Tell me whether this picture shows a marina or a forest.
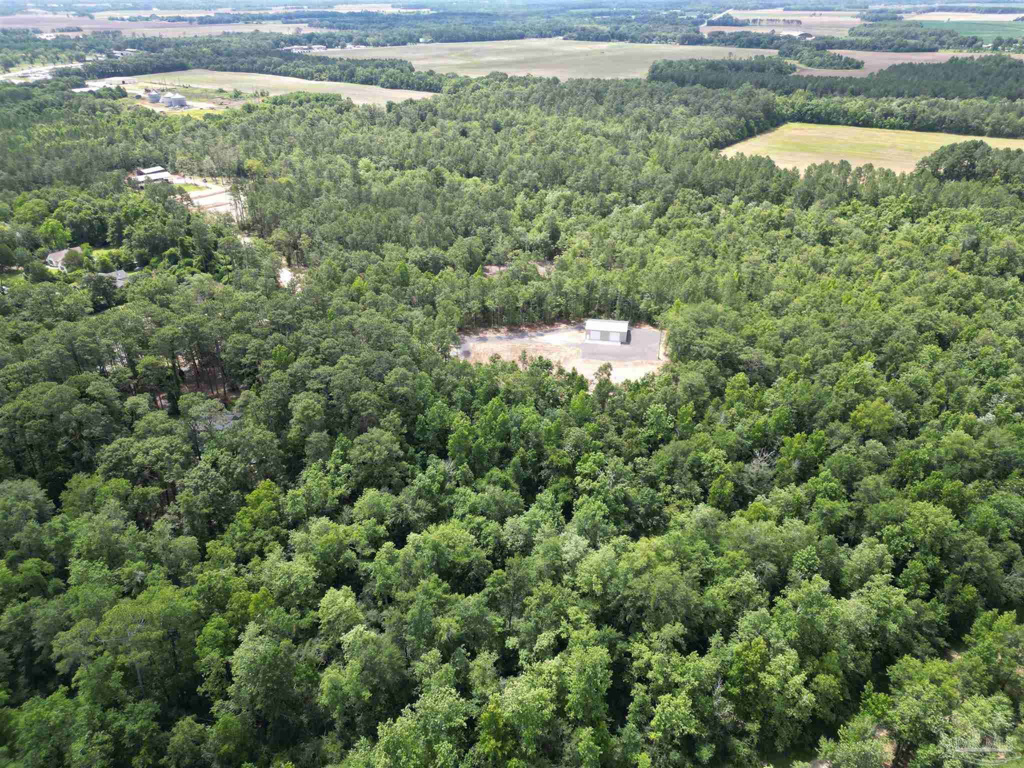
forest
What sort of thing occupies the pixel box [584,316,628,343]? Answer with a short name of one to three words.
building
